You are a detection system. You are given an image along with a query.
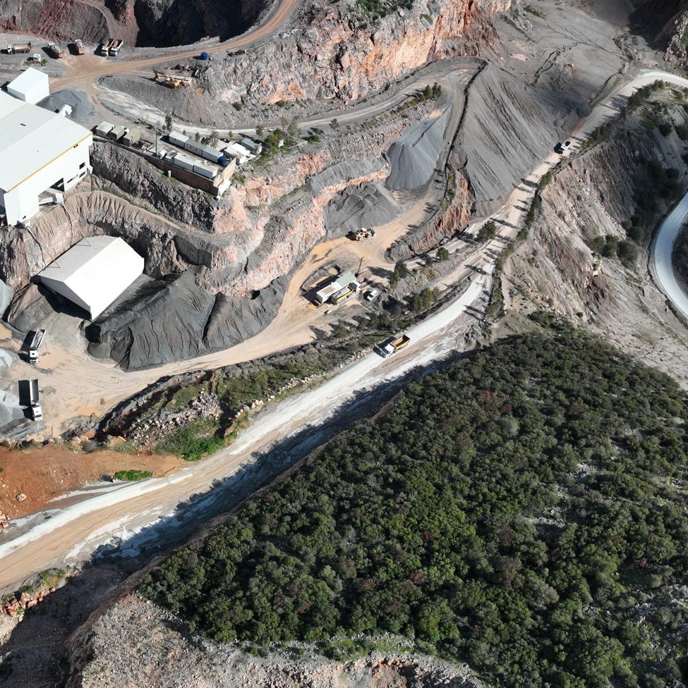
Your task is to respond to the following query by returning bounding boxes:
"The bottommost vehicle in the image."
[30,380,45,422]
